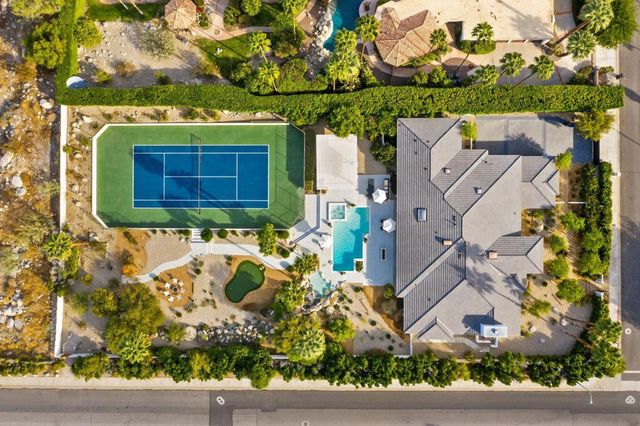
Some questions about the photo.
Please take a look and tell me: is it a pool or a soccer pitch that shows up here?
pool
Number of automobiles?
none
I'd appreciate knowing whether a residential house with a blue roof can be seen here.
No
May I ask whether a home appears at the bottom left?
No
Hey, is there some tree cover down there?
Yes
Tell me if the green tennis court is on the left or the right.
left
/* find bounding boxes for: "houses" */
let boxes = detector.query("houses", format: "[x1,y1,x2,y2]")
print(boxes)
[397,117,561,342]
[376,0,555,69]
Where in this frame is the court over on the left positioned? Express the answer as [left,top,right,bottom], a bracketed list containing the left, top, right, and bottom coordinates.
[92,106,306,230]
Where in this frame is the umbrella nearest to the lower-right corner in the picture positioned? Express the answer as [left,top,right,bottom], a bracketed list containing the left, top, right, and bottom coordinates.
[382,219,395,232]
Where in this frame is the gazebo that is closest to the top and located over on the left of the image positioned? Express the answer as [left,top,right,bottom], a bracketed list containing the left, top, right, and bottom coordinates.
[164,0,200,32]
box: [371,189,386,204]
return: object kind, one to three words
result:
umbrella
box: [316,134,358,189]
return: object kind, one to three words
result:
building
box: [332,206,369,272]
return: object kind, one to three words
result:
swimming pool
